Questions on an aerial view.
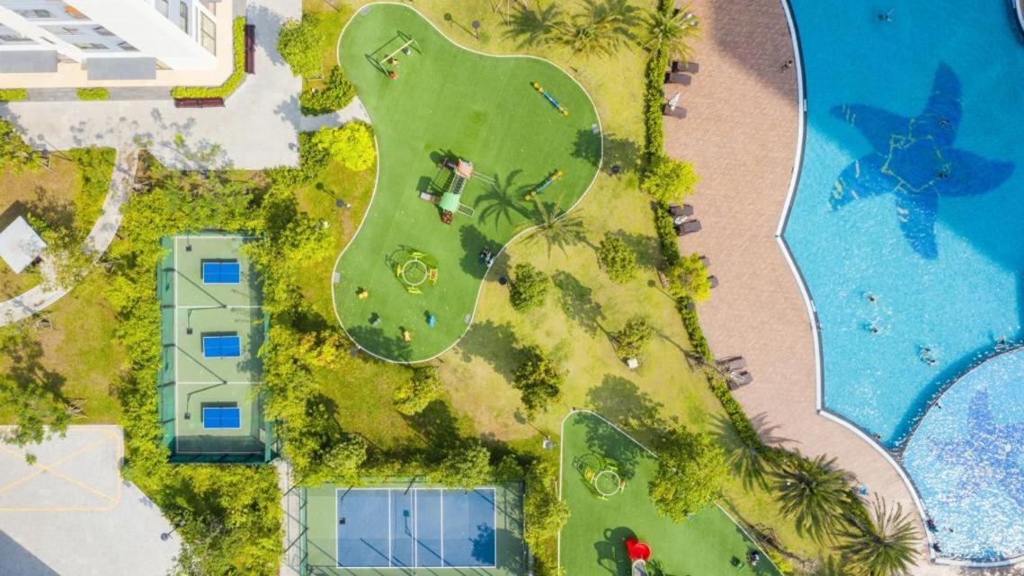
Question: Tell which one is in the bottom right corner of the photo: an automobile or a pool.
pool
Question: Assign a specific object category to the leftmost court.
tennis court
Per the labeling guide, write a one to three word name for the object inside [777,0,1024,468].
swimming pool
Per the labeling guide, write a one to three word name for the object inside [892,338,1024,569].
swimming pool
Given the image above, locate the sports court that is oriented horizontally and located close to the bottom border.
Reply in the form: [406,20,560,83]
[299,473,524,576]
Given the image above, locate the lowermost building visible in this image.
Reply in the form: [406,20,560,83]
[0,216,62,273]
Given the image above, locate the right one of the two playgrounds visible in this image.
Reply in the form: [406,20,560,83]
[557,410,782,576]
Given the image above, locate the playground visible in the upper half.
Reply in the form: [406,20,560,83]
[331,1,604,364]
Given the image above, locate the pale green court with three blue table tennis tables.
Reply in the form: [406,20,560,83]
[174,232,272,454]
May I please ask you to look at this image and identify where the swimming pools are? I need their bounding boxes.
[777,0,1024,468]
[892,338,1024,569]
